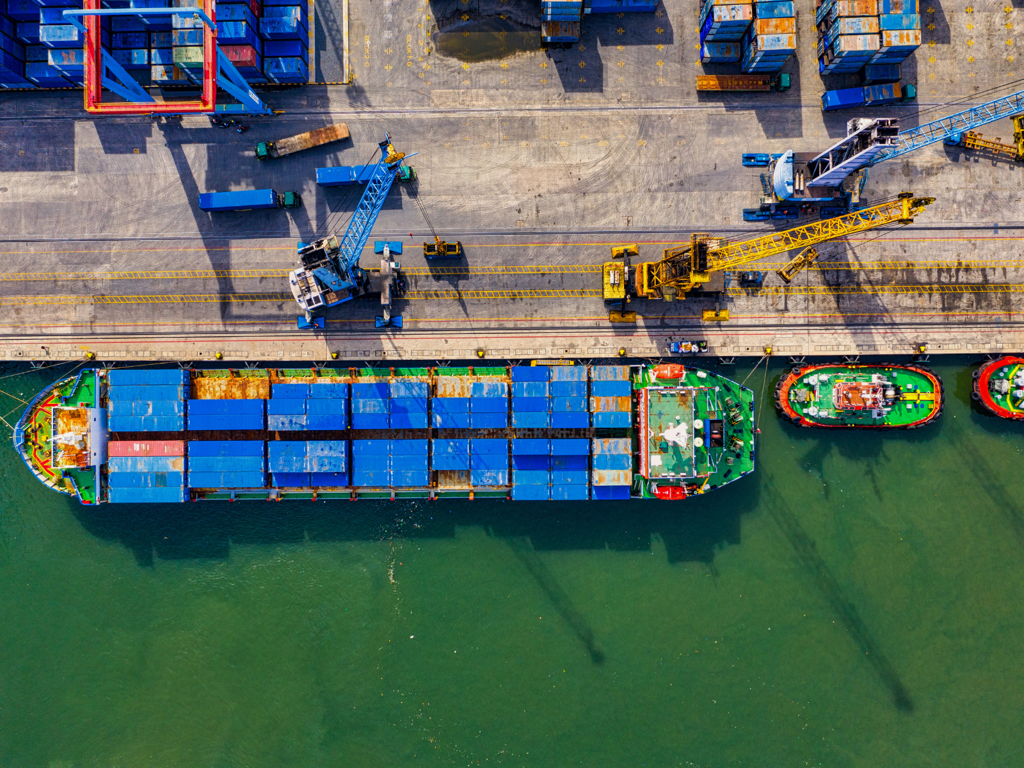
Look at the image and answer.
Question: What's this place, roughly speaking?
port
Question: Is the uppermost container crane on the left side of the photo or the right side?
left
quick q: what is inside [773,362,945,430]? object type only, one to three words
boat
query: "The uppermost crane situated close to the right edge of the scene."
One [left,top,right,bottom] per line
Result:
[741,73,1024,221]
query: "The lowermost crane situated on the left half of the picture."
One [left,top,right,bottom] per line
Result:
[289,131,443,328]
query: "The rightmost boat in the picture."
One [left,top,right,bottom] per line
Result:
[968,354,1024,423]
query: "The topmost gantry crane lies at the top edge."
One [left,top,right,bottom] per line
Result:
[61,0,289,119]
